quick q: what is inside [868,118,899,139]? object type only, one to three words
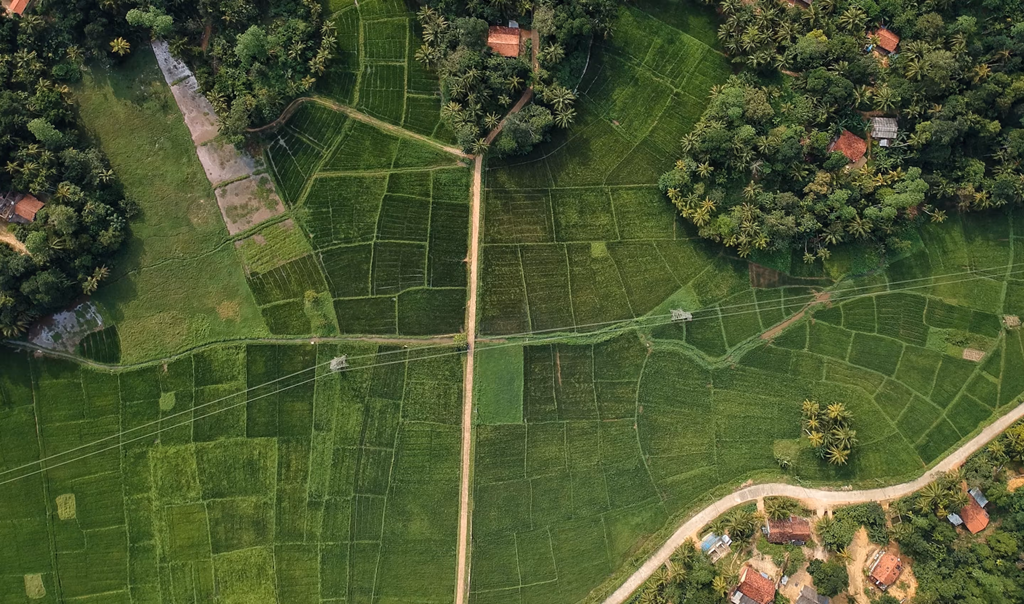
building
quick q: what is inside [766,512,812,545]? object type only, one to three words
house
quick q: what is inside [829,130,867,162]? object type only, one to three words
house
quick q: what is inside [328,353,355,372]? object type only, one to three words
pylon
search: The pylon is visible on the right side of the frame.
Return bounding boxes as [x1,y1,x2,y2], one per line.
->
[666,308,692,323]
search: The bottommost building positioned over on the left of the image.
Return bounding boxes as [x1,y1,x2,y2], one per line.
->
[0,190,49,225]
